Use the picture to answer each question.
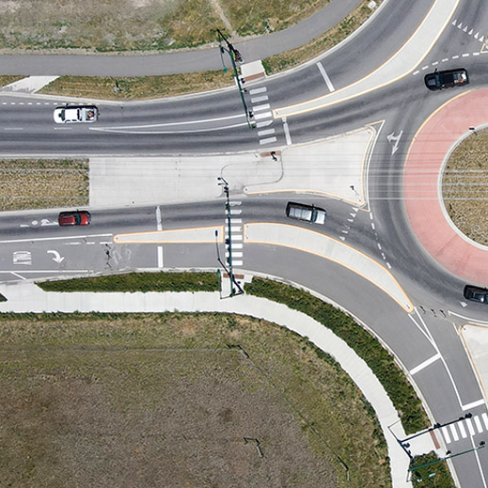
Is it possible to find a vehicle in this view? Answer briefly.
Yes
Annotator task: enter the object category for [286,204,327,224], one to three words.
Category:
car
